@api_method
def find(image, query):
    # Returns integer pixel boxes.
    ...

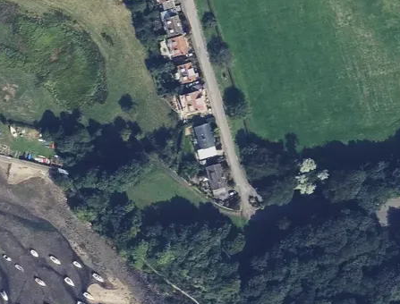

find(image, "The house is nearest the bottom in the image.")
[203,162,226,197]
